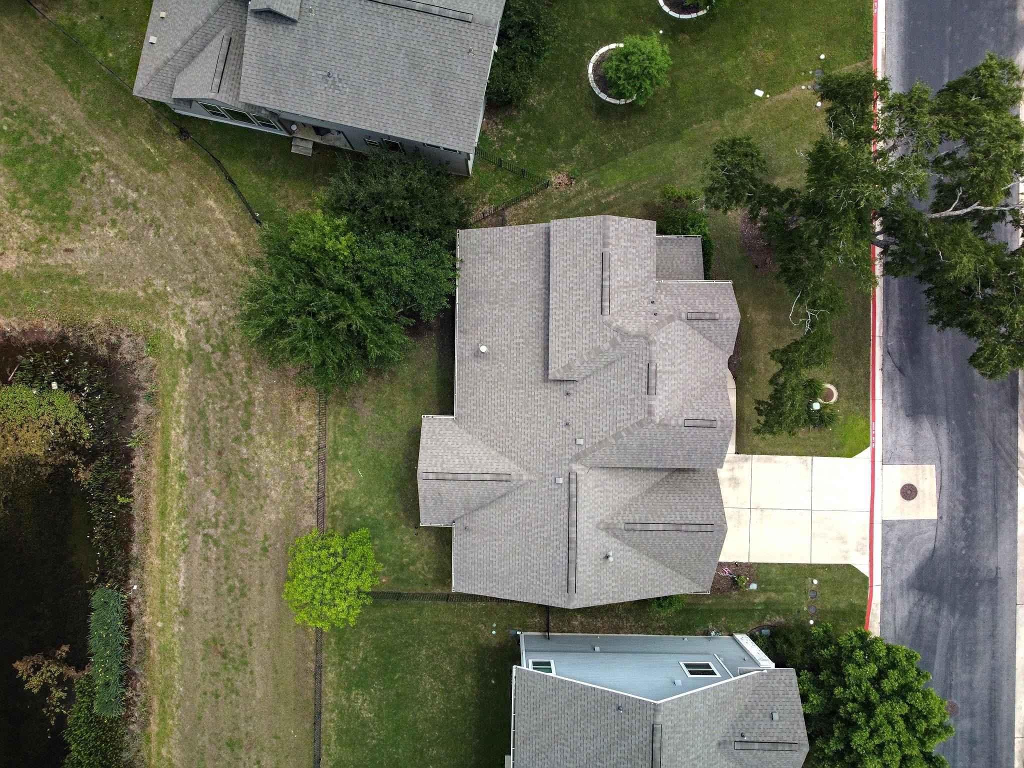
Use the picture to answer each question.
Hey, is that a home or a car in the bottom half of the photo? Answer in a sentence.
The feature located in the bottom half of the photo is a home.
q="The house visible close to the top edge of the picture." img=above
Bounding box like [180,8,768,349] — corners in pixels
[132,0,511,181]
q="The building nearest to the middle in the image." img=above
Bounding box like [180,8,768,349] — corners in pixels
[418,215,741,609]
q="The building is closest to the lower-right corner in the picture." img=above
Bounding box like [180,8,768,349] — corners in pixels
[510,628,809,768]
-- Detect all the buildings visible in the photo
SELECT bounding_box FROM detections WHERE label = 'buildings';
[132,0,511,181]
[510,628,809,768]
[418,215,741,609]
